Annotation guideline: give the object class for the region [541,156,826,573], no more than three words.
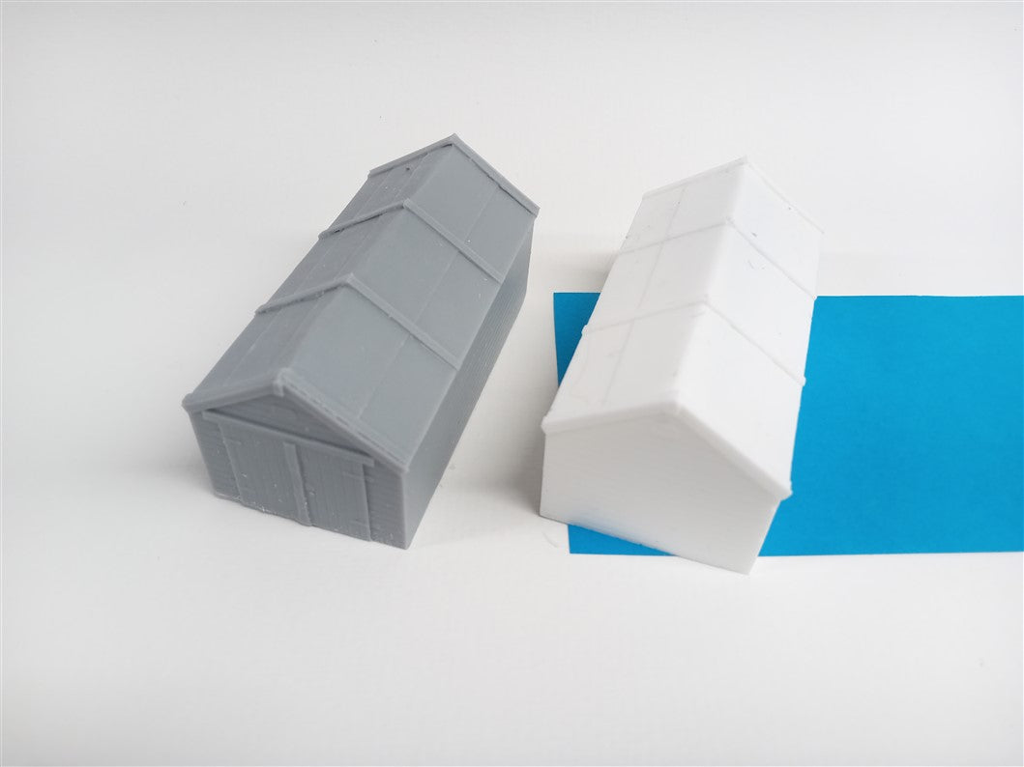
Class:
shed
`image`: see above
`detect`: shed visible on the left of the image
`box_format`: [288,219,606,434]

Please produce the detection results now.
[181,133,542,548]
